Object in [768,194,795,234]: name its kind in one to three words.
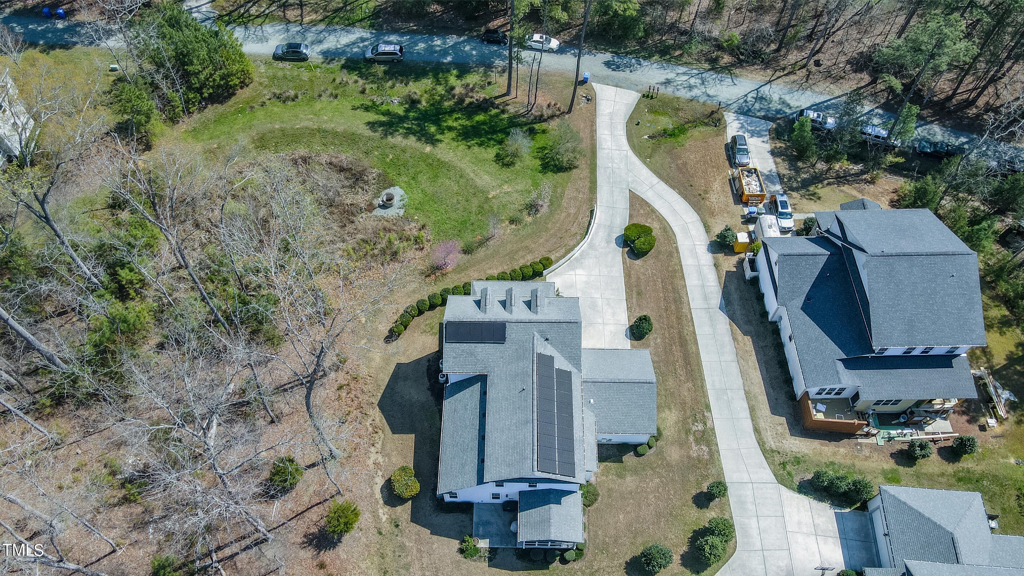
car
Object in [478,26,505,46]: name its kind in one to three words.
car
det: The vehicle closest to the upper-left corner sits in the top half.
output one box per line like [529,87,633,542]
[272,42,311,61]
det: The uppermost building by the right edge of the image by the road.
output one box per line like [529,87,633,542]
[754,199,987,432]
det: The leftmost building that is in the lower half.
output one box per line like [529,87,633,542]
[436,278,657,549]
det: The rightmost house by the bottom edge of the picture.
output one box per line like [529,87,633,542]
[852,485,1024,576]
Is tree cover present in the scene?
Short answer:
Yes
